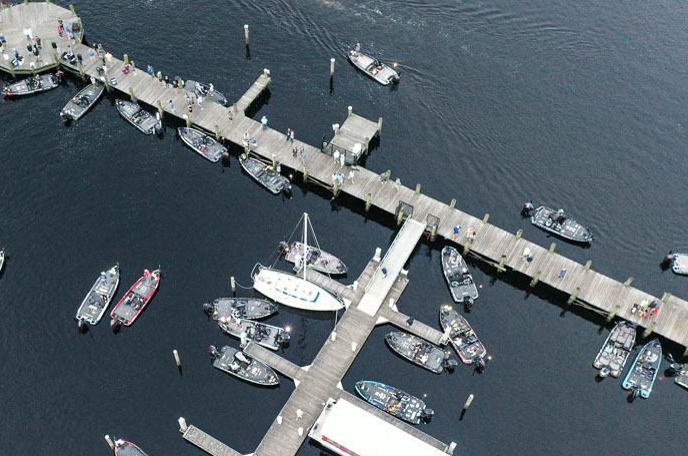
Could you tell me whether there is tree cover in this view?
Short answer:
No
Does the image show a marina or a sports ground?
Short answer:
marina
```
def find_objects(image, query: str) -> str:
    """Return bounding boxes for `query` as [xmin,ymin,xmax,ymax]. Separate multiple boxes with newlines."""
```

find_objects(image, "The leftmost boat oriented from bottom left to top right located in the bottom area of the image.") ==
[76,264,121,329]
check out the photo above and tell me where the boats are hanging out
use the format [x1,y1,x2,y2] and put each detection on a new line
[202,299,277,320]
[441,303,490,365]
[62,83,106,121]
[211,344,280,388]
[666,254,688,276]
[354,382,436,426]
[1,75,61,98]
[110,269,161,328]
[348,55,400,89]
[442,243,481,306]
[76,264,121,329]
[112,442,144,456]
[529,204,593,244]
[595,321,632,377]
[113,99,160,136]
[179,77,228,106]
[671,363,688,388]
[218,319,292,349]
[624,336,661,399]
[176,126,229,164]
[385,335,454,374]
[238,155,292,196]
[252,213,345,312]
